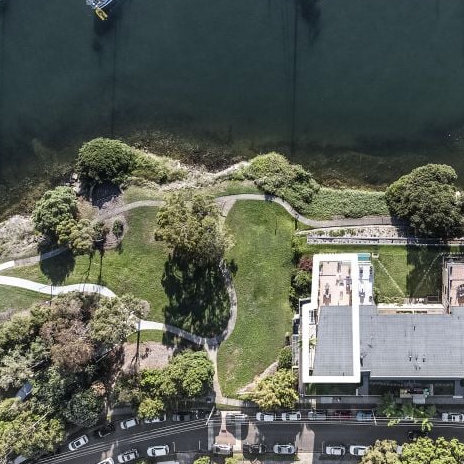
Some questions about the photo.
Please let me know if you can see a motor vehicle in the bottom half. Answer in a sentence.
Yes, a motor vehicle can be seen in the bottom half.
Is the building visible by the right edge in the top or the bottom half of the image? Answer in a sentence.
The building visible by the right edge is in the bottom half of the image.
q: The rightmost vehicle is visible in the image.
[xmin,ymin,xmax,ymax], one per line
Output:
[440,411,464,424]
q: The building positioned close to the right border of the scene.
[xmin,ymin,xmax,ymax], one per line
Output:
[300,252,464,395]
